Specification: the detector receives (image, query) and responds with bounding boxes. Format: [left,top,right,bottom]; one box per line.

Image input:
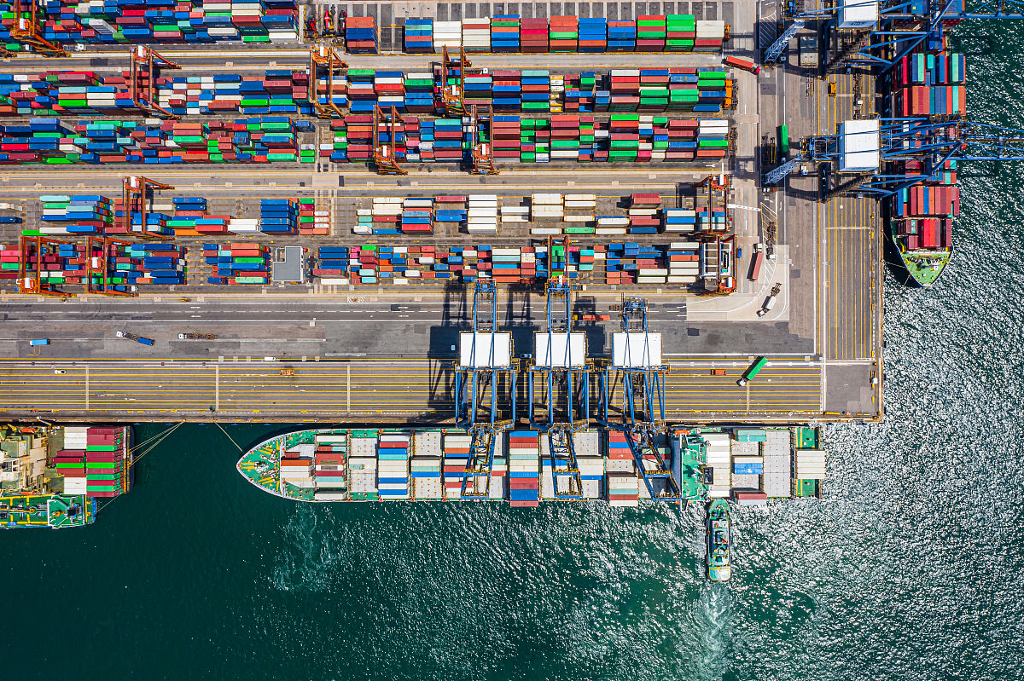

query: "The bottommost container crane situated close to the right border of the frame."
[766,105,1024,207]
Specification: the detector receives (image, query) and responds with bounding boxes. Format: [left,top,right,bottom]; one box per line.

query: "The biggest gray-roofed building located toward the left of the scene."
[272,244,306,281]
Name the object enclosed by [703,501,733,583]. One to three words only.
boat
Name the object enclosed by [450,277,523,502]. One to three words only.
container crane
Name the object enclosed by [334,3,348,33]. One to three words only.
work vehicle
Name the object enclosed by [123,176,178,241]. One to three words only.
container crane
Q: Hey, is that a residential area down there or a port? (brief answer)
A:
port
